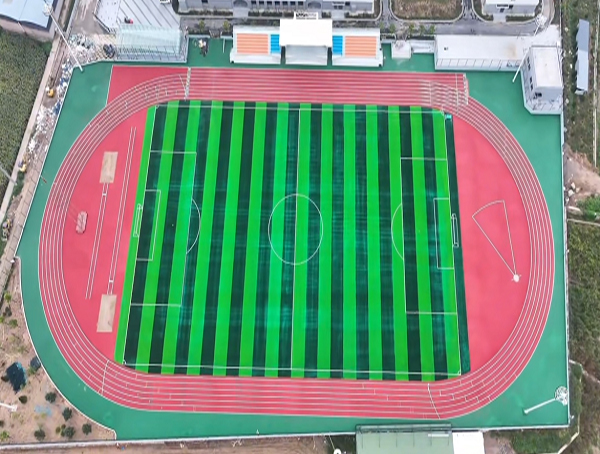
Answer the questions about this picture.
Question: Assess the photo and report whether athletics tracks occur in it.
Yes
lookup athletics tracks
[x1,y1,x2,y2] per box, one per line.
[39,64,554,419]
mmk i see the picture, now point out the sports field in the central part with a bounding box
[114,99,470,383]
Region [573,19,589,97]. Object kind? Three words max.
shed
